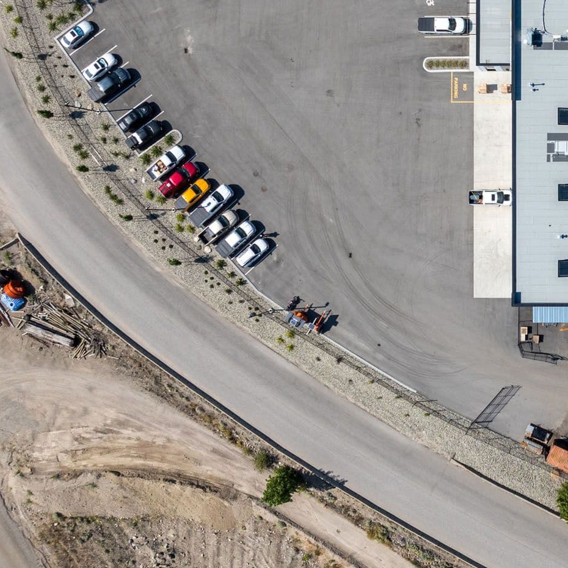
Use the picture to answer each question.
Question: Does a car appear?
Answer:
Yes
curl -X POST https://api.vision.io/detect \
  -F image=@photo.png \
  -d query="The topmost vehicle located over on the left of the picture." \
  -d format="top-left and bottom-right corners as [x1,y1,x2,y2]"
[56,19,93,50]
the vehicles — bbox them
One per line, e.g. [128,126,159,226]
[233,236,268,268]
[79,50,116,81]
[195,206,240,246]
[172,175,214,212]
[82,64,131,103]
[119,117,165,153]
[186,185,233,226]
[468,189,512,206]
[56,19,93,50]
[288,298,298,311]
[211,217,257,258]
[141,142,187,181]
[155,159,200,198]
[111,99,156,134]
[418,14,464,33]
